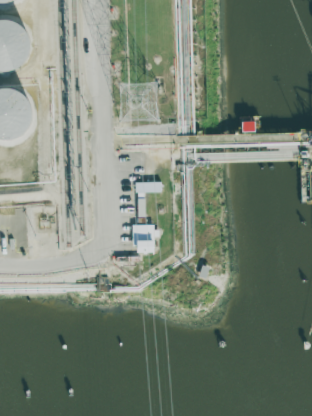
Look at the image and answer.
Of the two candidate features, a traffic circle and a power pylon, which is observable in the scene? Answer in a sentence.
The image shows a power pylon.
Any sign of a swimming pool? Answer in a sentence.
No, the photo shows no swimming pool.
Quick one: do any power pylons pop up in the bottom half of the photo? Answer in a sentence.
No, no power pylon appears in the bottom half of the photo.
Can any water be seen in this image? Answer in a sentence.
Yes, water can be seen from above here.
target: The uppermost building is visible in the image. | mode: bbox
[240,114,261,132]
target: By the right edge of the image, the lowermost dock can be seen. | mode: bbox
[224,148,300,162]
